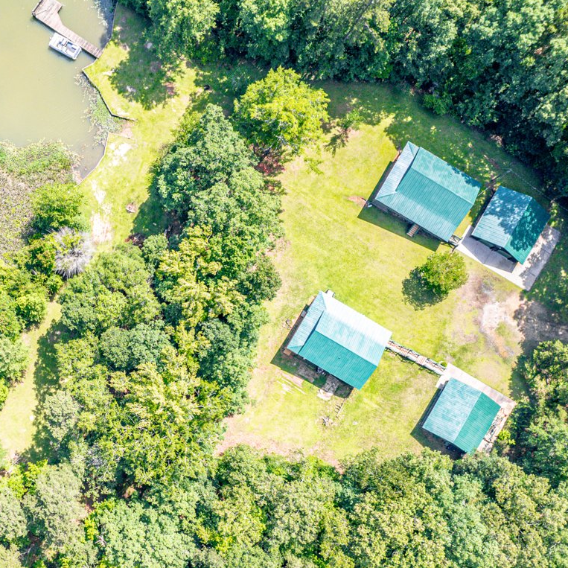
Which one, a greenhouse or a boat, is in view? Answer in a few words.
boat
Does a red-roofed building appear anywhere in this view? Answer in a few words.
No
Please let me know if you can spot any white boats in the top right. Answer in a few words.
No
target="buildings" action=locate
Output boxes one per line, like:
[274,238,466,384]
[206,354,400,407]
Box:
[276,287,393,389]
[467,186,551,264]
[419,377,502,456]
[369,141,482,242]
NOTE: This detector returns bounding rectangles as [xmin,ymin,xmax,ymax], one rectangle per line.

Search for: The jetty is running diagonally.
[33,0,102,57]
